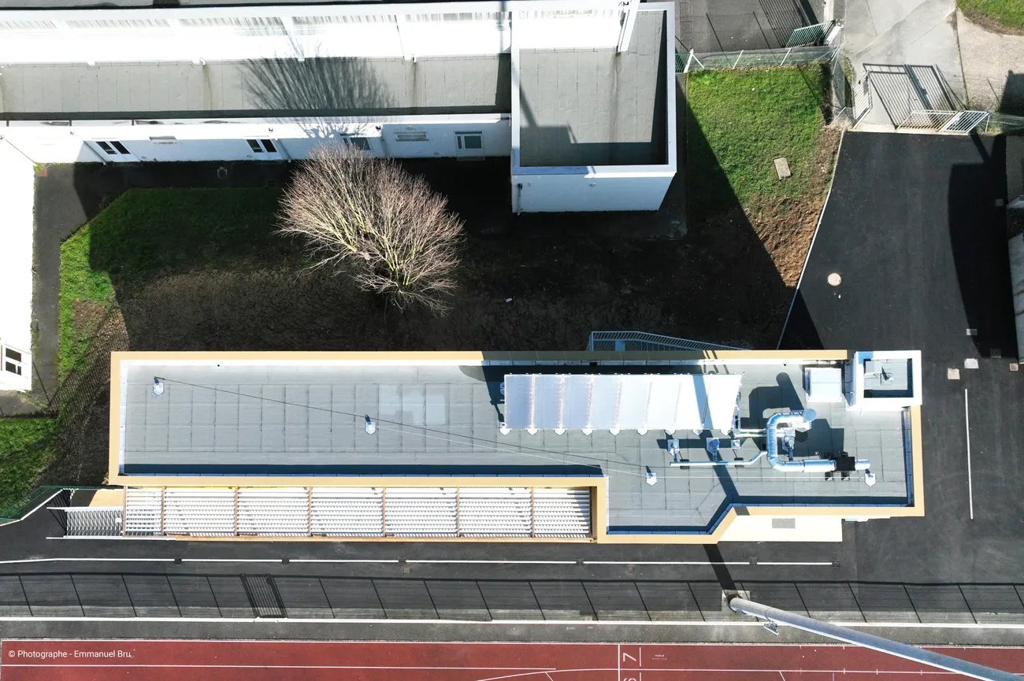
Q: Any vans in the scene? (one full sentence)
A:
No, I find no van anywhere in the image.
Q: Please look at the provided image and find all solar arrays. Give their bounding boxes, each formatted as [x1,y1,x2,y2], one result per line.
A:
[500,373,743,435]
